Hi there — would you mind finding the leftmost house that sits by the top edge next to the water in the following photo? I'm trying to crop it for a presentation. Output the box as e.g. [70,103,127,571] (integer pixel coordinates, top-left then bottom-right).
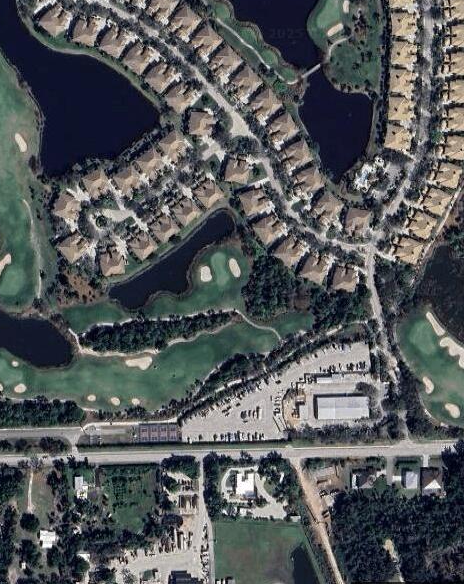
[38,4,72,35]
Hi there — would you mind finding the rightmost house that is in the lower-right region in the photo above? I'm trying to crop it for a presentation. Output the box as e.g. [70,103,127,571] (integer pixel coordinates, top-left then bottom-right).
[422,467,443,494]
